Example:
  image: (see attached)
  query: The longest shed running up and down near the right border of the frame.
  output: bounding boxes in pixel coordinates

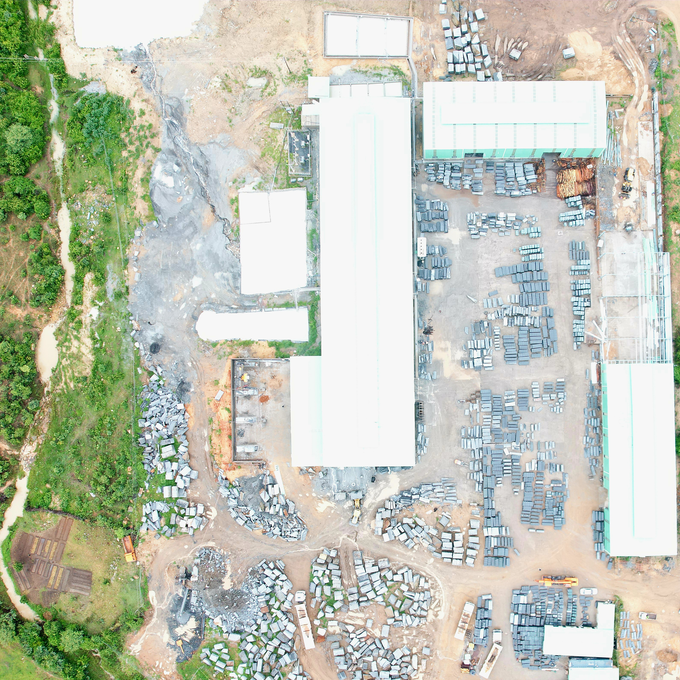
[601,363,677,556]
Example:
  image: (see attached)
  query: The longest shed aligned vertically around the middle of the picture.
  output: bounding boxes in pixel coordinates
[321,95,416,467]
